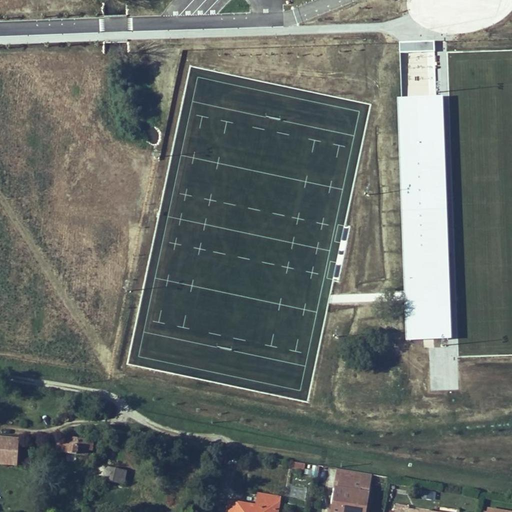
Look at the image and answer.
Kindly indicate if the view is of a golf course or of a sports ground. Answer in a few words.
sports ground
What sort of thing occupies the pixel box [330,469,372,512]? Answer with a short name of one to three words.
house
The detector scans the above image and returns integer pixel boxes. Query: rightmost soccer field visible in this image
[448,48,512,358]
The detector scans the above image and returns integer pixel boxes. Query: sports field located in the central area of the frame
[127,66,372,402]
